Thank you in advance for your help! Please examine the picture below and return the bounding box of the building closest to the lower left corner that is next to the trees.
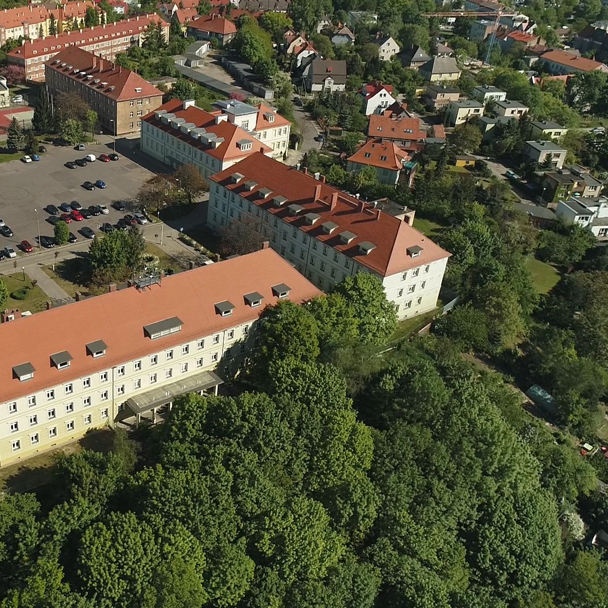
[0,242,326,464]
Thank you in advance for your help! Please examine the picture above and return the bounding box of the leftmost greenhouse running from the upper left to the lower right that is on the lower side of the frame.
[518,380,564,415]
